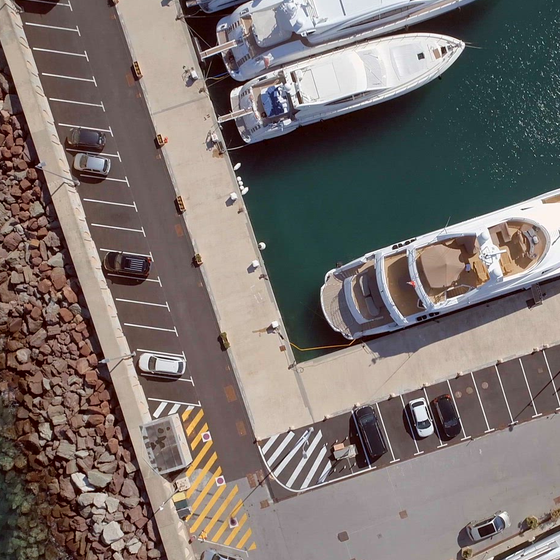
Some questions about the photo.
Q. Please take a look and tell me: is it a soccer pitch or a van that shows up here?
van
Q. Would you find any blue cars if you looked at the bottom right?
No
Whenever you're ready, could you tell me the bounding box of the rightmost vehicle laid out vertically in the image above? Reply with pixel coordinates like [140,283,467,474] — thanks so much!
[434,394,459,437]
